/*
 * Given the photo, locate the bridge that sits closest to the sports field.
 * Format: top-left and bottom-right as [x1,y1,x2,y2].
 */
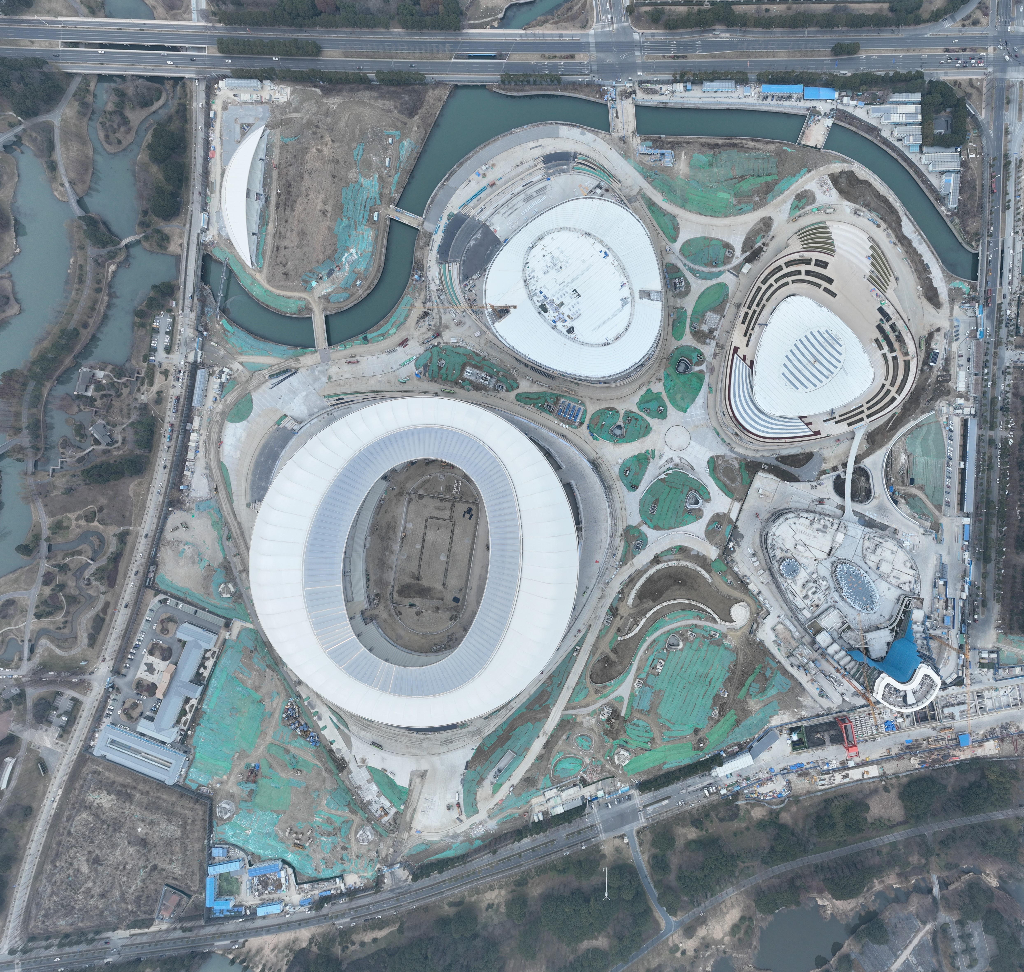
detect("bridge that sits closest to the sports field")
[310,309,328,354]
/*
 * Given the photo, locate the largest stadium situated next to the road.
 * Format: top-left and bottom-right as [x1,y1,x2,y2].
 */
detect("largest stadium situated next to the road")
[249,396,579,728]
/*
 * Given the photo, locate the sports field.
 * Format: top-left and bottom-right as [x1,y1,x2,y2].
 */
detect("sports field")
[367,459,489,653]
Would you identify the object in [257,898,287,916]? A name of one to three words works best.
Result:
shed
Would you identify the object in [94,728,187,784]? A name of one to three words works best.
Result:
building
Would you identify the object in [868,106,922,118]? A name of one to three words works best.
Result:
building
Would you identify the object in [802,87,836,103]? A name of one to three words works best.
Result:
shed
